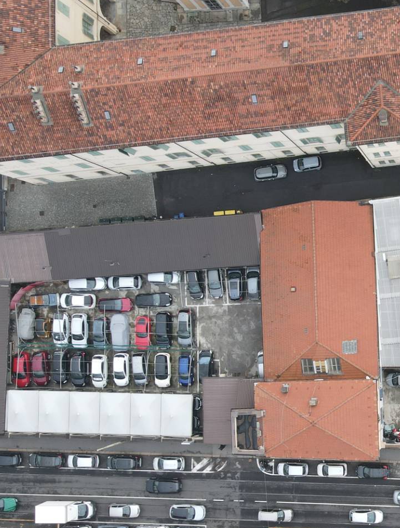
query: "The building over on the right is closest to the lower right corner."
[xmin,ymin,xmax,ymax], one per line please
[255,377,384,461]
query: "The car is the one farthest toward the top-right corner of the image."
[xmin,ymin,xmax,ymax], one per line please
[293,157,322,173]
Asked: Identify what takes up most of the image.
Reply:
buildings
